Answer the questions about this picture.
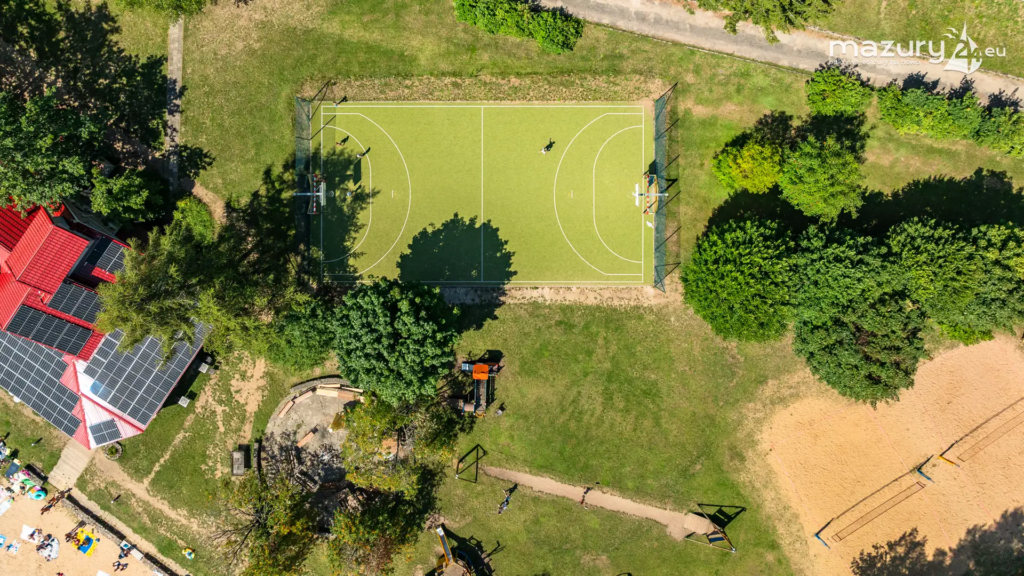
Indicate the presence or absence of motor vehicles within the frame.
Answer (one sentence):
No, I can see no motor vehicle in this picture.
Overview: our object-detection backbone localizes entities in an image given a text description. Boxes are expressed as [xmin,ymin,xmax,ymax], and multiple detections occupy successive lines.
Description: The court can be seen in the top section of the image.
[310,100,656,288]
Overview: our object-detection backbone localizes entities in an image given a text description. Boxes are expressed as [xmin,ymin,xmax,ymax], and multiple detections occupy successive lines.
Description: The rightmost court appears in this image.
[915,347,1024,549]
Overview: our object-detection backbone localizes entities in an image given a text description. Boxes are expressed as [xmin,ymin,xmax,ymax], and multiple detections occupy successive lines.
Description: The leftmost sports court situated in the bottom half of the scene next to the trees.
[772,405,960,576]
